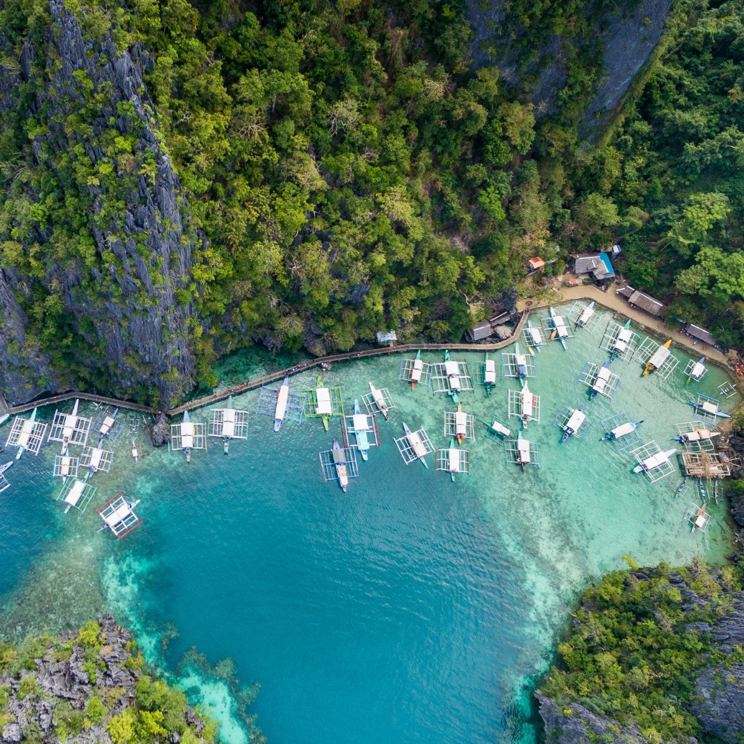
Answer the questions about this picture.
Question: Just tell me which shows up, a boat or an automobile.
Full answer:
There is a boat in the scene.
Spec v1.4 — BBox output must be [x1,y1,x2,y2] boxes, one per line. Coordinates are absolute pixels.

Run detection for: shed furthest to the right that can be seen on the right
[683,322,714,347]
